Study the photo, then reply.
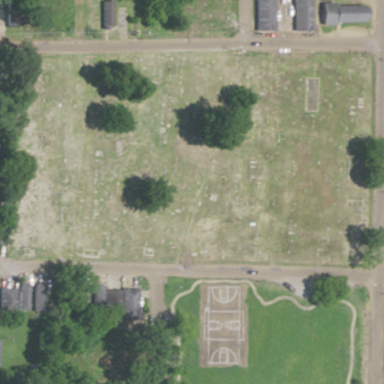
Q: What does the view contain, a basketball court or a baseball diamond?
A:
basketball court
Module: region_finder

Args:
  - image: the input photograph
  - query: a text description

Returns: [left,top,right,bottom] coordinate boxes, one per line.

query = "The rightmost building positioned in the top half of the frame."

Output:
[324,2,372,26]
